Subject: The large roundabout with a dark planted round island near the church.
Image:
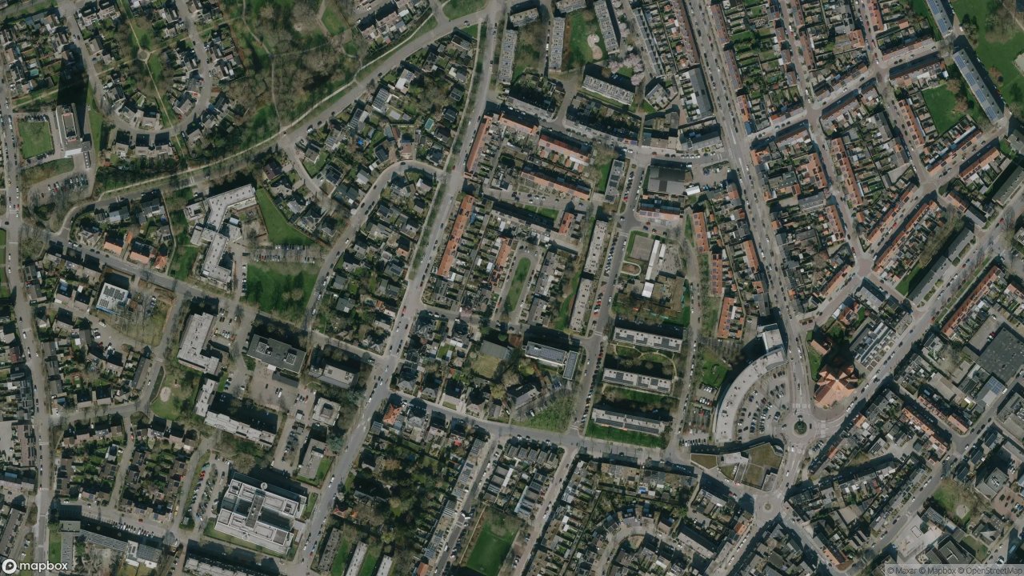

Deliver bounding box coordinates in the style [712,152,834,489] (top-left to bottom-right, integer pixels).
[784,416,815,446]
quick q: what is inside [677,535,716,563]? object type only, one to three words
house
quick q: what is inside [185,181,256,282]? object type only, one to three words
house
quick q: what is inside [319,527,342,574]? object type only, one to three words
building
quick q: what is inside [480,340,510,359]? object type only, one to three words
building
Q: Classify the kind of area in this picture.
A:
residential area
